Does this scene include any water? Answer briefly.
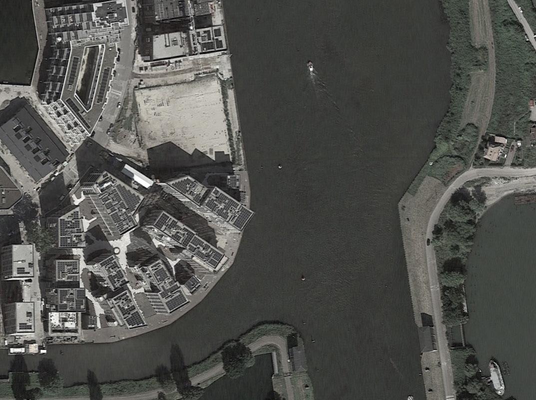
Yes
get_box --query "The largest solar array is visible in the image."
[99,176,139,227]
